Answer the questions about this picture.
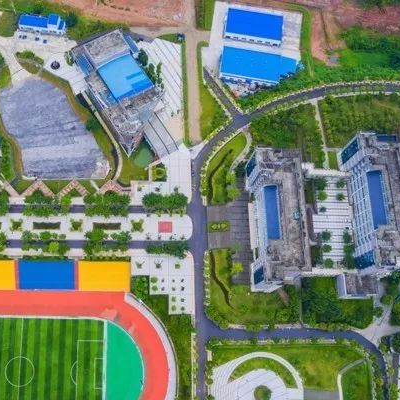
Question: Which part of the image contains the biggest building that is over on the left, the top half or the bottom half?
top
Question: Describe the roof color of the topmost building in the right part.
blue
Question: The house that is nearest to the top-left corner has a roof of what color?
blue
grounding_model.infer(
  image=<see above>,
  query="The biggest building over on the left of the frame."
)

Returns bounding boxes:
[72,28,167,160]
